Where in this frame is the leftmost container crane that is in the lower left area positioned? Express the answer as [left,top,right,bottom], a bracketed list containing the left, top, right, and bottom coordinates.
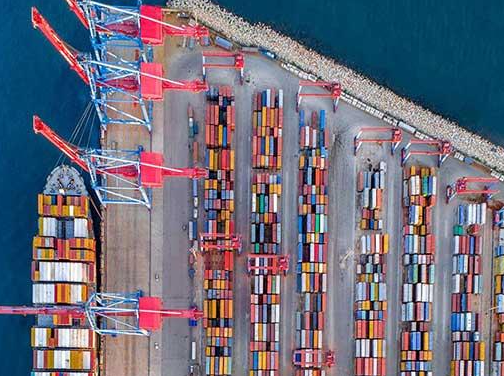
[0,295,204,343]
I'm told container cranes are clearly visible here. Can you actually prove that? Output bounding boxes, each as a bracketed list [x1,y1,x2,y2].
[401,140,452,168]
[355,127,403,156]
[246,254,290,278]
[296,81,341,113]
[73,0,205,77]
[33,110,205,215]
[290,350,336,369]
[0,295,204,343]
[199,233,243,257]
[36,1,205,136]
[448,177,501,204]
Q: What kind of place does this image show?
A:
port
